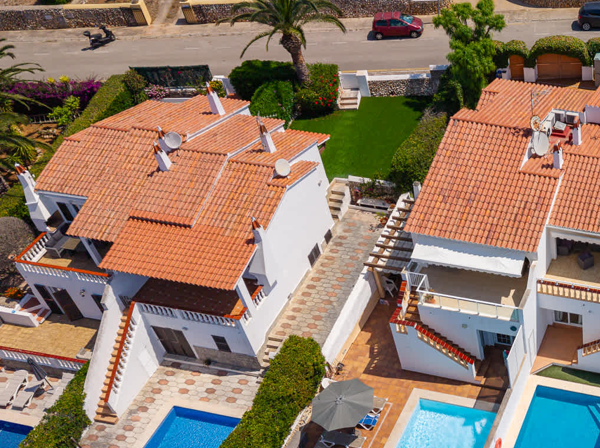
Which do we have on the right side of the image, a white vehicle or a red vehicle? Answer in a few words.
red vehicle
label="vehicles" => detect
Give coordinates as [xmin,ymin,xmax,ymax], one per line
[371,11,423,41]
[579,6,600,35]
[81,21,118,42]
